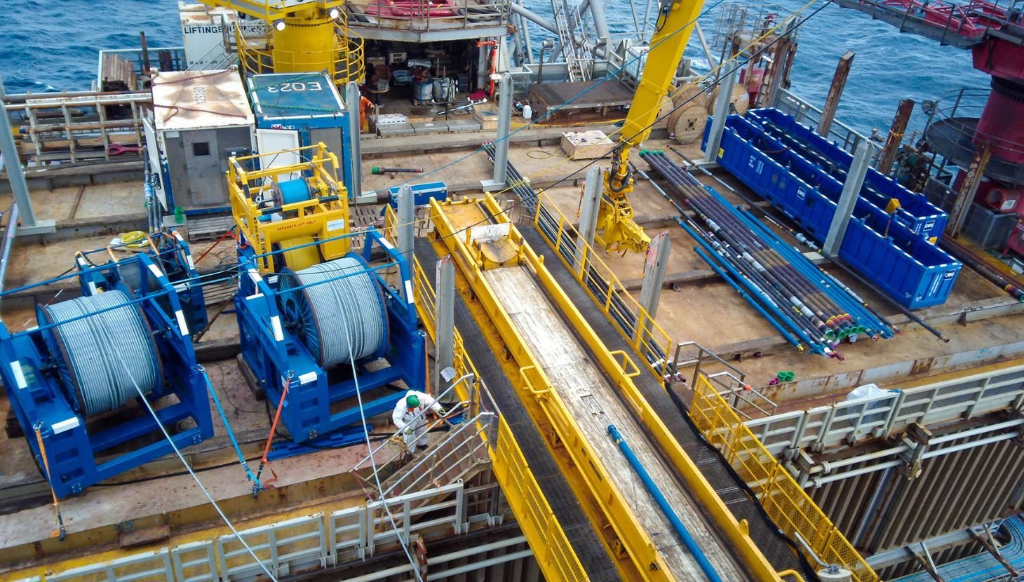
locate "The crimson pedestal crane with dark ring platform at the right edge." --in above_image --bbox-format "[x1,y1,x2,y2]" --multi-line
[889,3,1024,253]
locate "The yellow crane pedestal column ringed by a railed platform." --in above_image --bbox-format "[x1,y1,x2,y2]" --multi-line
[228,0,370,95]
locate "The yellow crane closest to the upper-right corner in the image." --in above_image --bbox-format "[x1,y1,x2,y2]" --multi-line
[578,0,700,243]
